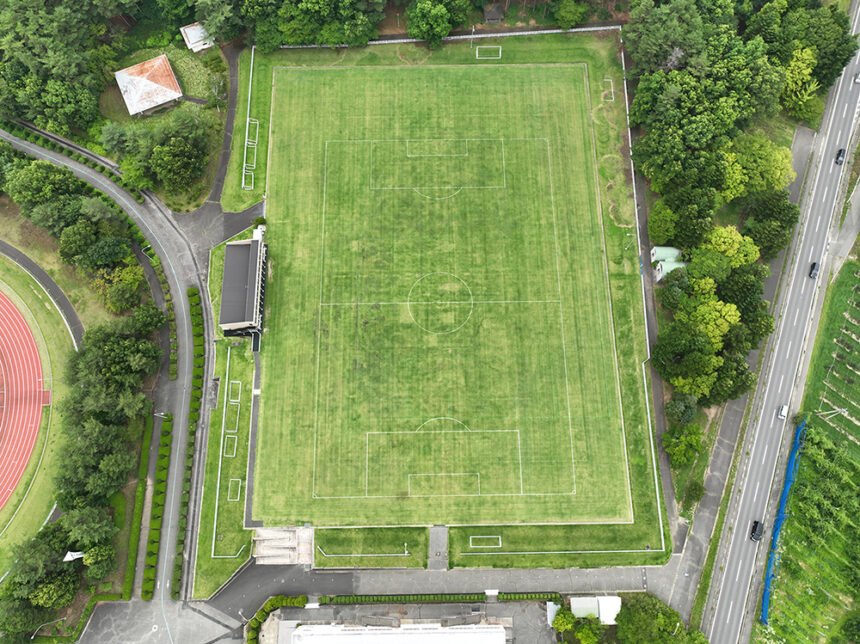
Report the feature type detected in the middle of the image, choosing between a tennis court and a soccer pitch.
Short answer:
soccer pitch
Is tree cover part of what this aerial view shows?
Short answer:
Yes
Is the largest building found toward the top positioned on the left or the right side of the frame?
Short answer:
left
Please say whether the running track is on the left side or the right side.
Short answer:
left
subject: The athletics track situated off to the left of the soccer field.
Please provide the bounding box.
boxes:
[0,240,88,573]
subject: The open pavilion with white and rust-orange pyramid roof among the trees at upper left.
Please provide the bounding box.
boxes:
[115,55,182,118]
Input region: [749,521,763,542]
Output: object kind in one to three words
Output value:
vehicle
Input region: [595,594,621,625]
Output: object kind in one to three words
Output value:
shed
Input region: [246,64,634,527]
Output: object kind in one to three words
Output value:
soccer field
